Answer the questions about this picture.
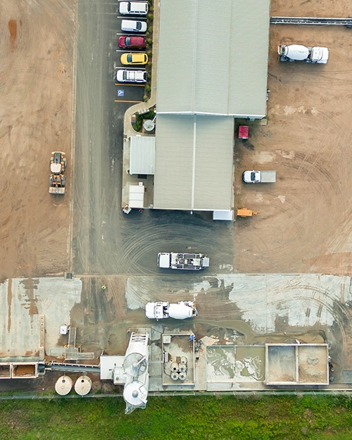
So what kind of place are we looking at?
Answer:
industrial area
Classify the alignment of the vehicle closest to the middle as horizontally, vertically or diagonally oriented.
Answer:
horizontally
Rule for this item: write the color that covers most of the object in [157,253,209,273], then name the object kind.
white vehicle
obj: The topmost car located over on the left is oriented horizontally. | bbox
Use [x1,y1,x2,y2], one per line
[119,0,148,14]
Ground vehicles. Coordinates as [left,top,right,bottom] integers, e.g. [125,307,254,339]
[242,172,277,185]
[116,69,147,84]
[120,52,147,66]
[277,44,330,64]
[47,153,65,195]
[147,302,199,324]
[118,36,146,50]
[119,0,148,14]
[157,253,209,273]
[121,19,147,32]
